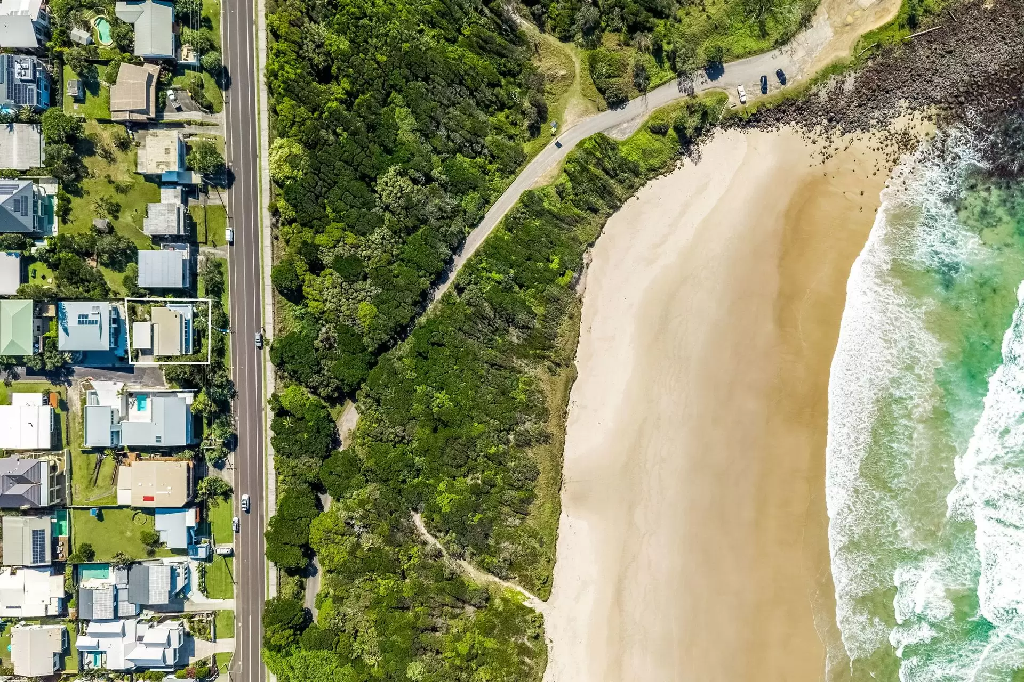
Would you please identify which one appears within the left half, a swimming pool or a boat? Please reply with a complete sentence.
Looking within the left half, you will find a swimming pool.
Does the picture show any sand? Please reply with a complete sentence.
Yes, there is sand in the image.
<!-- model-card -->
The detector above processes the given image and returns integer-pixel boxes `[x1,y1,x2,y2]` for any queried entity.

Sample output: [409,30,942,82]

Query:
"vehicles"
[214,547,233,554]
[241,495,249,510]
[232,517,239,532]
[776,68,785,84]
[168,91,180,108]
[226,227,233,242]
[737,85,746,102]
[255,332,262,347]
[760,75,768,93]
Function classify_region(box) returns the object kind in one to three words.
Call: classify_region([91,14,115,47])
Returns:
swimming pool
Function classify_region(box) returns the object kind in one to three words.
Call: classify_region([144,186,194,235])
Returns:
house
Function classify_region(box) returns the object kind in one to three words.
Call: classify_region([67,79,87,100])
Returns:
shed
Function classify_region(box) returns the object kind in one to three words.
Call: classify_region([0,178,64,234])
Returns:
house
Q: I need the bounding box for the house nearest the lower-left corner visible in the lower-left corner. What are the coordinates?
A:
[11,623,72,677]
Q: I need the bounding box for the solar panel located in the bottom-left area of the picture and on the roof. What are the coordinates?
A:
[32,530,45,564]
